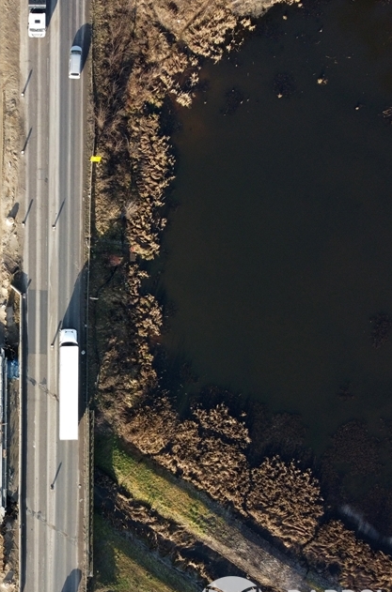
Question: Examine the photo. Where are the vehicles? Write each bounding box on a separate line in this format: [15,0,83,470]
[59,327,78,446]
[26,0,47,36]
[69,46,83,79]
